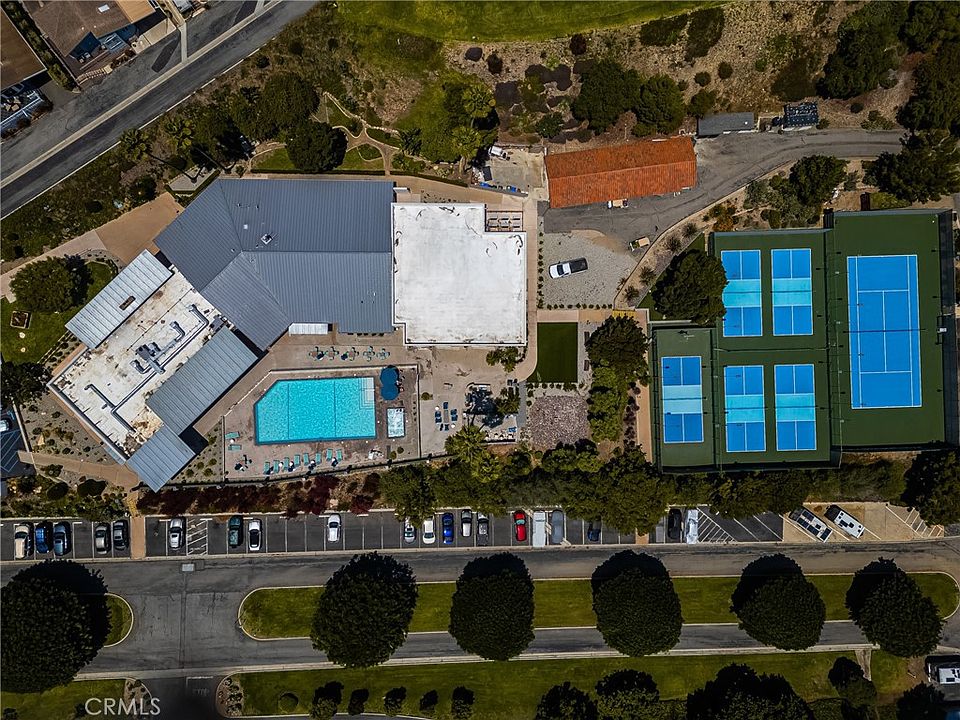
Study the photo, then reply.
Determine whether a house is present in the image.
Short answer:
Yes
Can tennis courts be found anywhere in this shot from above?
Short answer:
Yes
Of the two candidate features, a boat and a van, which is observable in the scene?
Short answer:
van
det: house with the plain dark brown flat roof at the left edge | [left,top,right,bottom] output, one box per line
[0,3,56,126]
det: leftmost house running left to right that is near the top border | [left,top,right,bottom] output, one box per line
[25,0,165,64]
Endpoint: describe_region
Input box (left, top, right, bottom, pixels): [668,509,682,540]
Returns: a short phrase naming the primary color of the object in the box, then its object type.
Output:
black car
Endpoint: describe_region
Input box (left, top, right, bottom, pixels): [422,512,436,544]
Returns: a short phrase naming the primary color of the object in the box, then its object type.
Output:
white car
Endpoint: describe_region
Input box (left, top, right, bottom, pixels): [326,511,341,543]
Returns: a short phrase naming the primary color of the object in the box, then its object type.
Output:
white car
